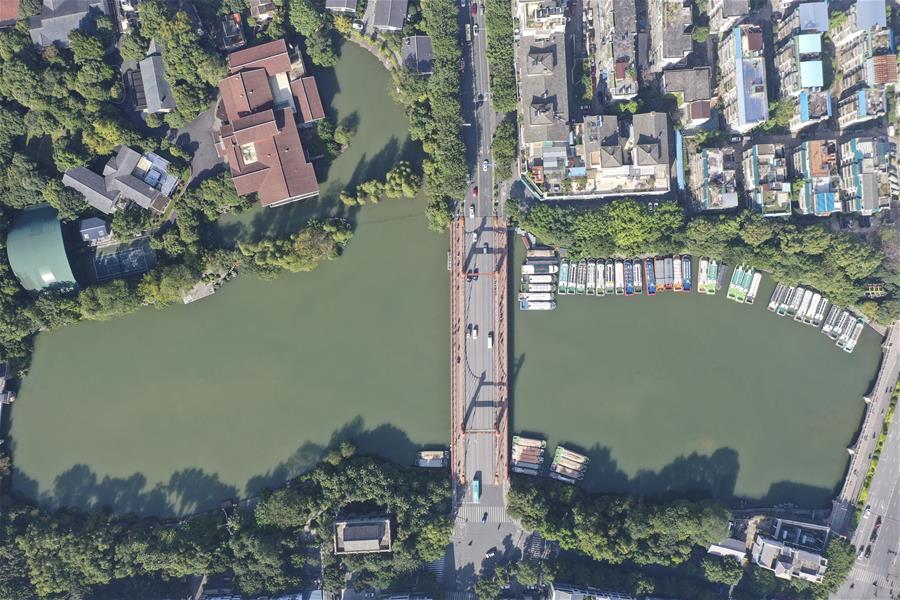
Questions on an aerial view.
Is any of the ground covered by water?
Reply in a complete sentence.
Yes, some water is visible.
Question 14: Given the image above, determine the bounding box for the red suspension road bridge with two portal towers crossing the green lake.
[449,211,511,488]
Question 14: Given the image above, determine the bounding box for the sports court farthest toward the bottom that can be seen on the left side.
[91,241,158,286]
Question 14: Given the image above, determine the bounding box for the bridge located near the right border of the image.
[831,312,900,521]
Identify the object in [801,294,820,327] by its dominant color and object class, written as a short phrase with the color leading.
white boat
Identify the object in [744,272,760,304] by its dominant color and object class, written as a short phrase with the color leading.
white boat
